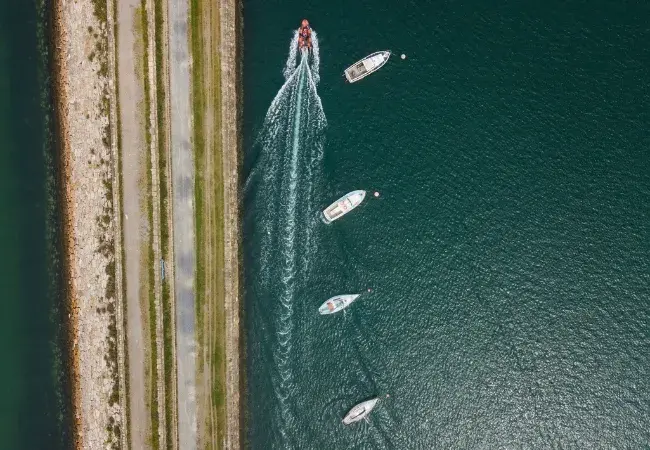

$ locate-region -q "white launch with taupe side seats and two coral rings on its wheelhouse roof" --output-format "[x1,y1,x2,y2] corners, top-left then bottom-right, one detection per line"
[321,191,366,223]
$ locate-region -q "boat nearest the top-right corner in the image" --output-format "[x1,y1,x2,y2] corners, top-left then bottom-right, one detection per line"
[343,48,393,83]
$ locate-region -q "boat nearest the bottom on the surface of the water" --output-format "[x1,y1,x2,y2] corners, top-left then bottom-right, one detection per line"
[343,397,378,437]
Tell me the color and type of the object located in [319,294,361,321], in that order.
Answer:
white boat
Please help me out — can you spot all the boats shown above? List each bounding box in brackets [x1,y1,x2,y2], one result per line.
[298,18,312,50]
[343,397,378,437]
[343,48,393,83]
[321,191,366,223]
[319,294,361,321]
